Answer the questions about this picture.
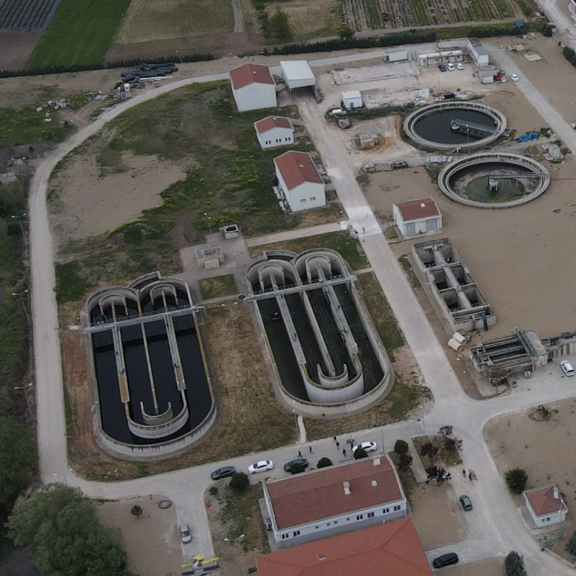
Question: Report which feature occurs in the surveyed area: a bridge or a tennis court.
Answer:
bridge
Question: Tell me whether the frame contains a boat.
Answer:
No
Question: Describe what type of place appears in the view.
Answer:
industrial area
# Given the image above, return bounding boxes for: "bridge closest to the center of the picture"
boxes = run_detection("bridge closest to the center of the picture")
[241,272,359,306]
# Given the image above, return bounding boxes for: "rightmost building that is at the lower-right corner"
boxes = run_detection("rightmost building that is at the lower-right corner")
[519,481,575,533]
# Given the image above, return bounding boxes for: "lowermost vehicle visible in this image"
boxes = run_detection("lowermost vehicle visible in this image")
[431,551,460,567]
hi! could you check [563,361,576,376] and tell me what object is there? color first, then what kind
white vehicle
